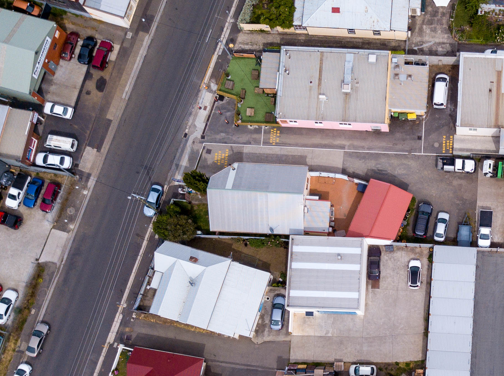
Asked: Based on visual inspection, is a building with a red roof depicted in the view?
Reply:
Yes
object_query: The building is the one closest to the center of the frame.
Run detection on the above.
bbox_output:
[207,163,332,238]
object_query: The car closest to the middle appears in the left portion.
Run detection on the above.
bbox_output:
[143,184,165,217]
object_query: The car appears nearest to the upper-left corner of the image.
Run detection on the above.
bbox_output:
[10,0,45,18]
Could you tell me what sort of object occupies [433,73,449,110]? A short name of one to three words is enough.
vehicle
